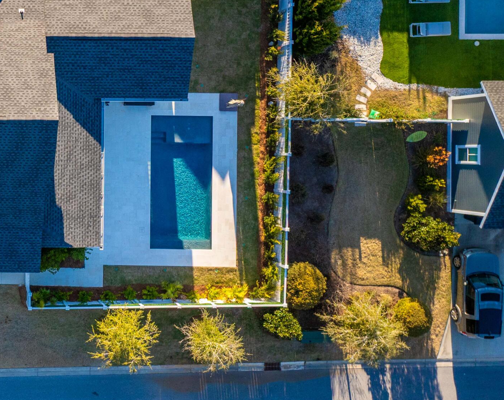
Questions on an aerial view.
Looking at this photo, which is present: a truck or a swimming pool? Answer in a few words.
swimming pool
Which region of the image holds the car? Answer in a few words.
bottom right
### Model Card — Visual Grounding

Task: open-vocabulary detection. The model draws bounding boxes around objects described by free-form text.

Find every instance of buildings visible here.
[0,0,195,270]
[451,81,504,229]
